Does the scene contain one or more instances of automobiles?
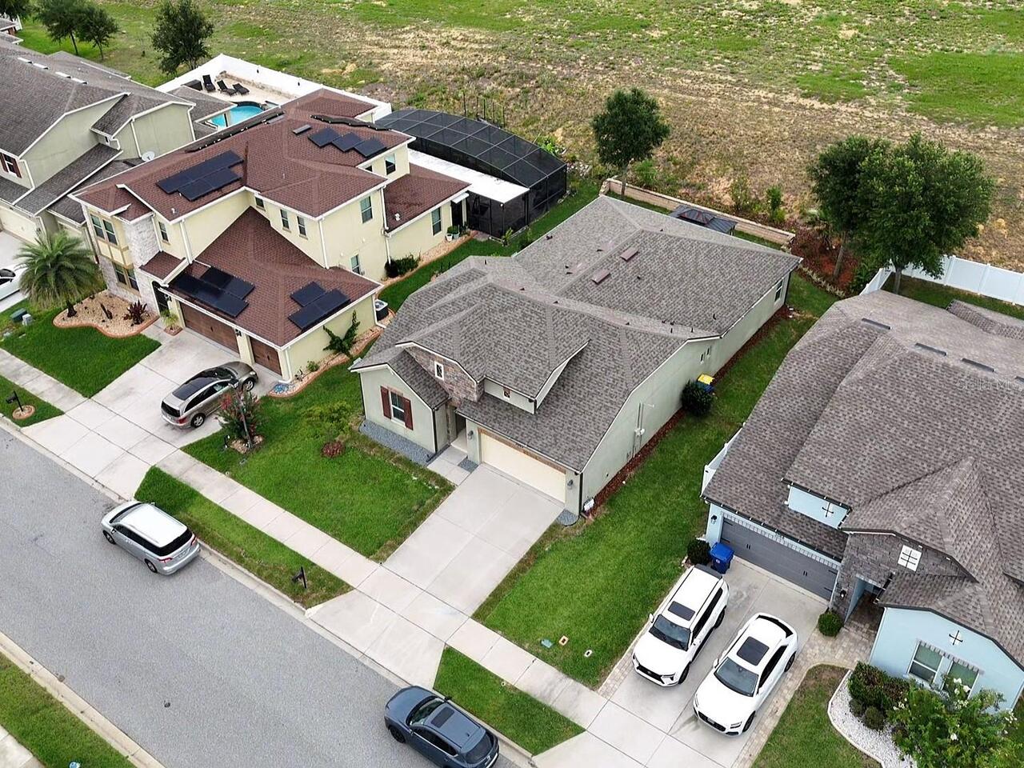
Yes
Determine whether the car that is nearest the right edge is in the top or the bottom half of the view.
bottom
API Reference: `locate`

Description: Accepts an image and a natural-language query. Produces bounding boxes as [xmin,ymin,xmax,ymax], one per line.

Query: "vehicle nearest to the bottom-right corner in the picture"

[692,615,796,739]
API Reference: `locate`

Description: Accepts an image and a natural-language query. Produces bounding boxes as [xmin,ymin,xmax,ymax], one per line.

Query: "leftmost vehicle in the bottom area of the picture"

[101,499,202,576]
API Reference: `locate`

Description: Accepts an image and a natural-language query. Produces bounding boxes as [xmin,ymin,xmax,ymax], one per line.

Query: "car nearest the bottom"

[384,683,509,768]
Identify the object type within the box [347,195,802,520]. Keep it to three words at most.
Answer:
house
